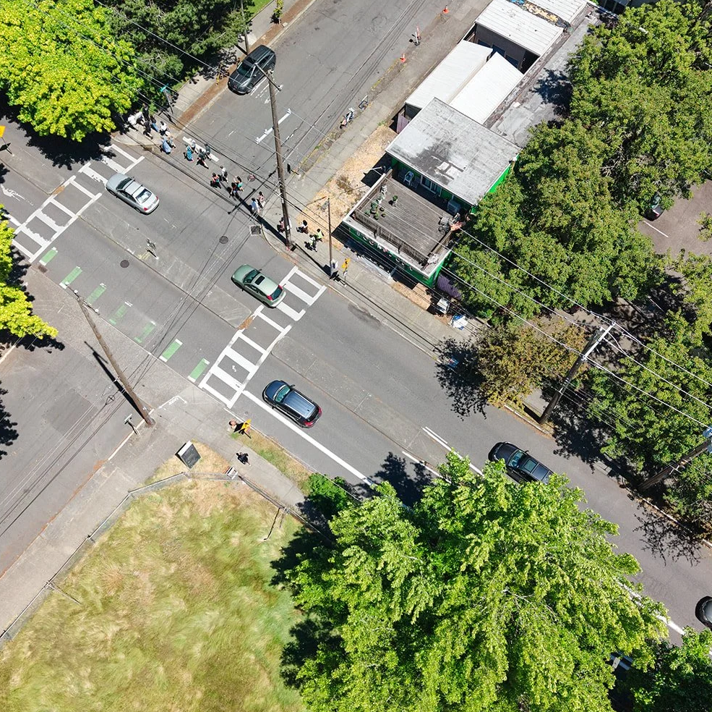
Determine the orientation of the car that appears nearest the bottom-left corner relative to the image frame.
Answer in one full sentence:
I'd say the car that appears nearest the bottom-left corner is aligned on a diagonal in the picture.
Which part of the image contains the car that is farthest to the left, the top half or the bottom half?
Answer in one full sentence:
It is in the top half that the car that is farthest to the left appears.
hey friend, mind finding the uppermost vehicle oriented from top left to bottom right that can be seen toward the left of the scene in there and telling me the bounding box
[103,173,163,218]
